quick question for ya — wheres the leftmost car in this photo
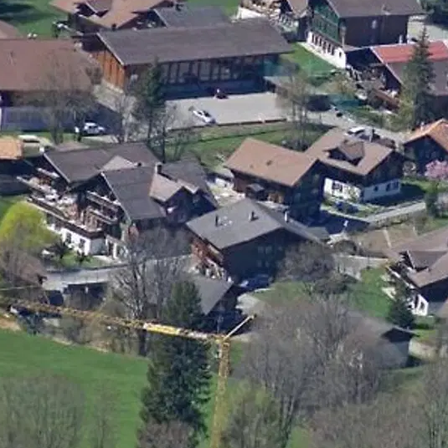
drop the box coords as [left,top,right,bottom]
[21,133,47,146]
